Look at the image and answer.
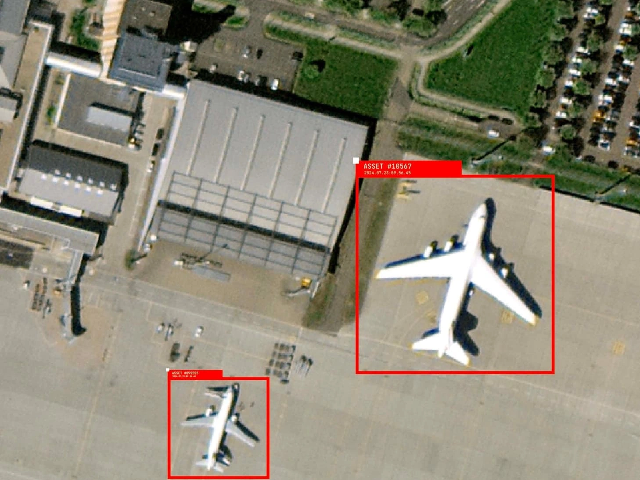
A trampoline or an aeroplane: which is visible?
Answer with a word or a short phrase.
aeroplane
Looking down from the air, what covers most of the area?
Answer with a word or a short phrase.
paved ground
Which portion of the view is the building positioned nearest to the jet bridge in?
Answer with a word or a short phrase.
left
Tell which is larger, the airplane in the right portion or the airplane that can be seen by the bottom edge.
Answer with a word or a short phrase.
the airplane in the right portion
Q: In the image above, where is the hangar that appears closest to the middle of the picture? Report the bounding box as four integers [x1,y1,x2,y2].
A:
[137,78,368,299]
